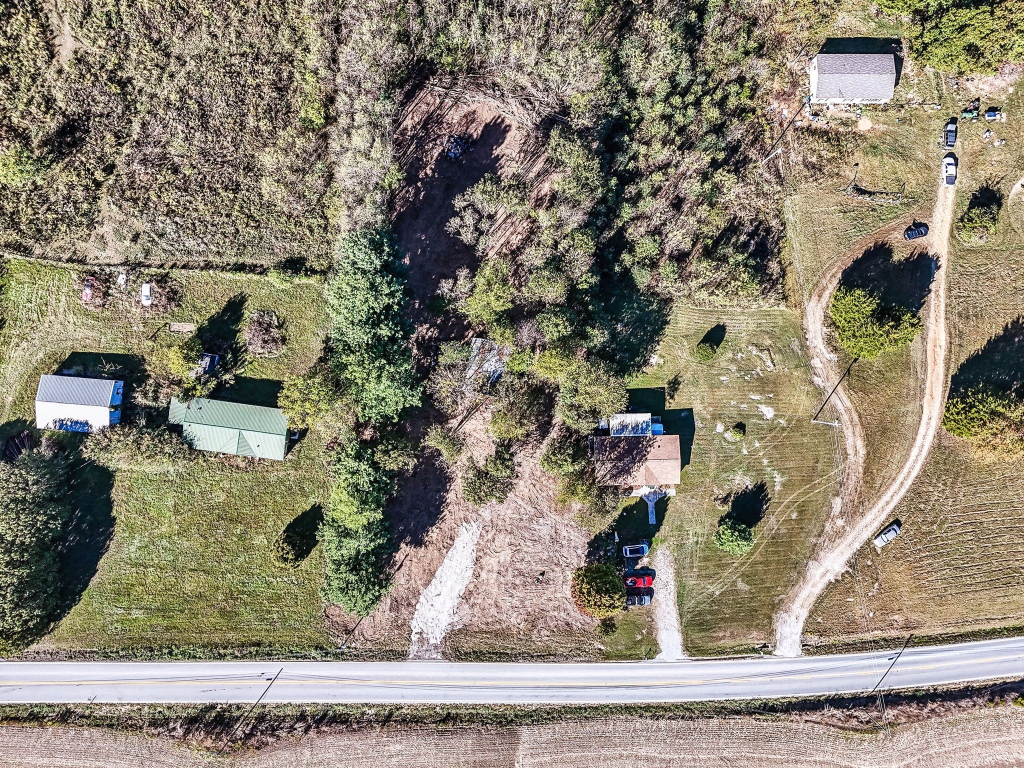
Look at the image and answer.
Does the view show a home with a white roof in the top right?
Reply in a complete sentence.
Yes, there is a home with a white roof in the top right.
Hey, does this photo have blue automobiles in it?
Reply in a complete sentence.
Yes, you can see a blue automobile in this photo.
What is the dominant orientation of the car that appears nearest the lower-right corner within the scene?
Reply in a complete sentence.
From this overhead view, the car that appears nearest the lower-right corner appears to run on a diagonal.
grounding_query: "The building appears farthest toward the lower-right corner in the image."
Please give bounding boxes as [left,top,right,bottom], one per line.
[594,413,682,487]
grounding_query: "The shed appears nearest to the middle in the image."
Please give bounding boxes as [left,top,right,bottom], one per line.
[463,337,513,390]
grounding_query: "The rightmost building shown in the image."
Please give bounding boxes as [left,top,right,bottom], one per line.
[809,54,899,112]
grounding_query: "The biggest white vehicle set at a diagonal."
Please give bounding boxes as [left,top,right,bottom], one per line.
[872,521,900,547]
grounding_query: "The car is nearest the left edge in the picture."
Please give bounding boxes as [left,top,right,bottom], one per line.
[81,276,95,301]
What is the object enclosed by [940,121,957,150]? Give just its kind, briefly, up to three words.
car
